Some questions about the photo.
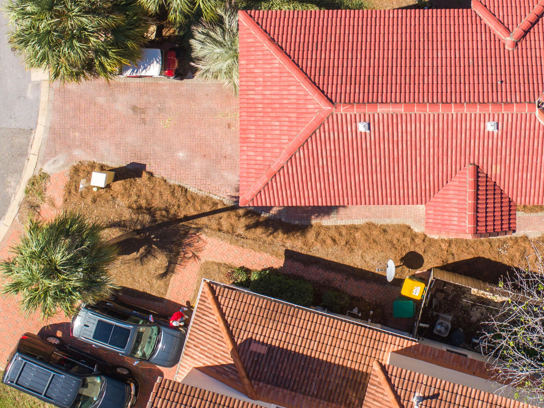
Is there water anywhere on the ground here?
No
